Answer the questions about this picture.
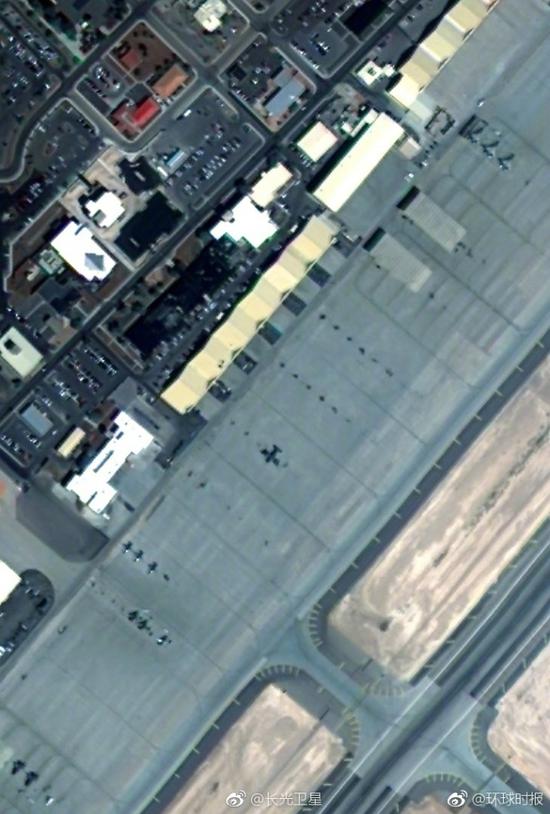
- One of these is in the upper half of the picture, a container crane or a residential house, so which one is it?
residential house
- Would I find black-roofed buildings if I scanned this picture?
Yes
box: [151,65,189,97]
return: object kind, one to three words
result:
house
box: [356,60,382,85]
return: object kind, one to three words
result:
building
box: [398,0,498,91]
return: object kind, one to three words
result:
hangar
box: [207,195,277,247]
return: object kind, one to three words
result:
building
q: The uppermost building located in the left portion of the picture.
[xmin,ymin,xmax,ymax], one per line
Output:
[195,0,227,31]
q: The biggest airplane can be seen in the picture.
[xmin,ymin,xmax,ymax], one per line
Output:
[262,447,280,464]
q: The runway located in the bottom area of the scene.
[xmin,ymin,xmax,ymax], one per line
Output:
[295,513,550,814]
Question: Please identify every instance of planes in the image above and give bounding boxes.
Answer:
[262,447,280,464]
[123,541,134,552]
[134,550,145,561]
[129,610,140,622]
[14,759,24,773]
[28,770,37,782]
[149,561,158,572]
[140,618,150,630]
